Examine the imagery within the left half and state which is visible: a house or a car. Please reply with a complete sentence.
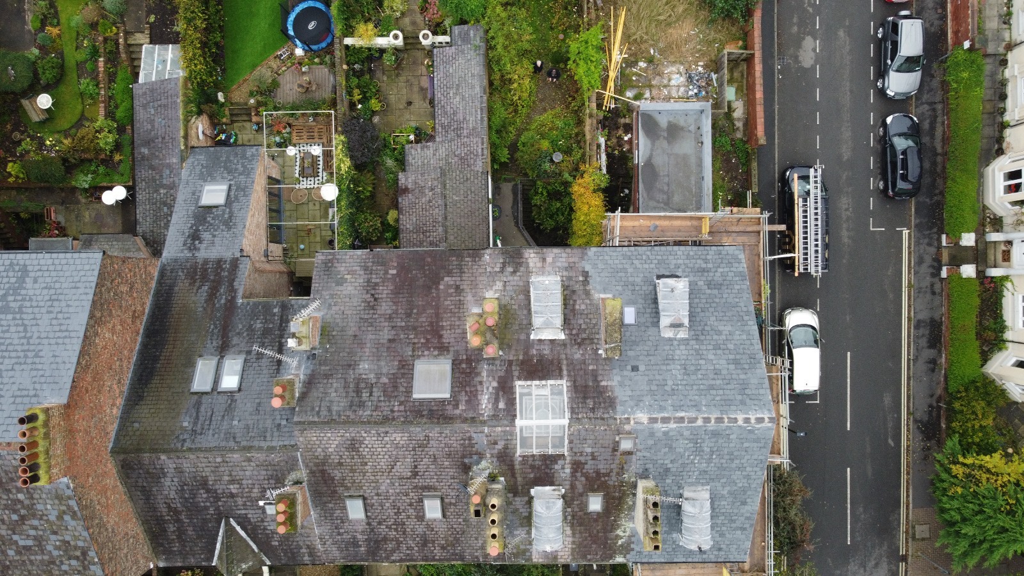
There is a house within the left half.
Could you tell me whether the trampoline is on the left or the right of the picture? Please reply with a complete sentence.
You can find the trampoline on the left side of the picture.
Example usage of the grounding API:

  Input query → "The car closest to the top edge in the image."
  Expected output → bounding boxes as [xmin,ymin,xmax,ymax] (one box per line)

[877,11,928,99]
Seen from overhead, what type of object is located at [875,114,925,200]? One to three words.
car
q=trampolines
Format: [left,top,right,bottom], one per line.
[277,0,330,55]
